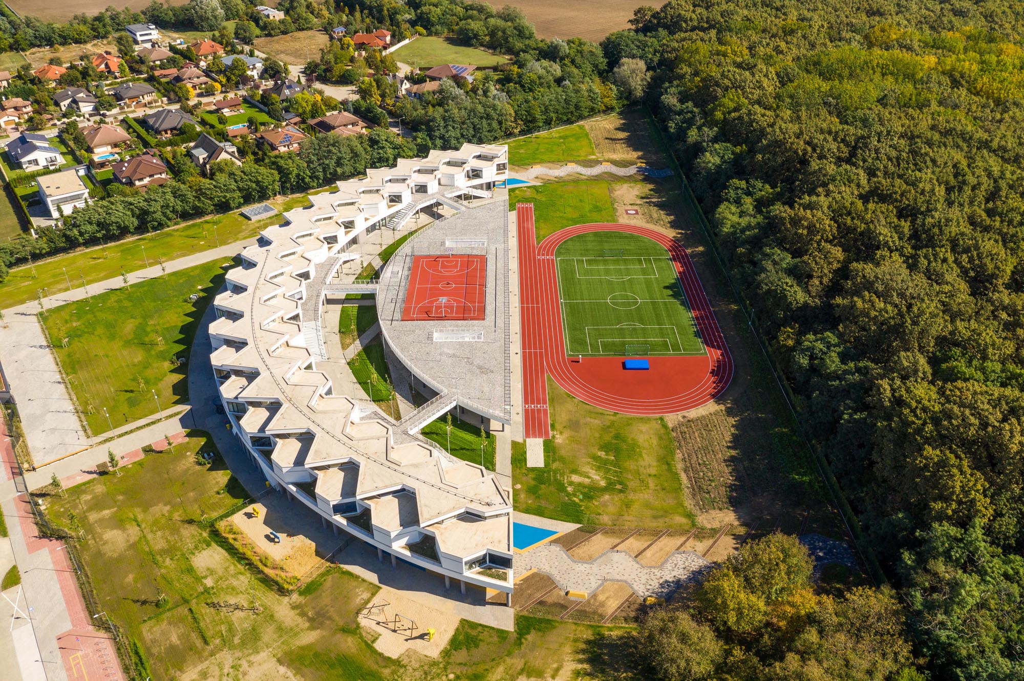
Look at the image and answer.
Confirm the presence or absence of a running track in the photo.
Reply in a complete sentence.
Yes, the image includes a running track.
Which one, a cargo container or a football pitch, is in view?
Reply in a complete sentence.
Looking from above, you can make out a football pitch.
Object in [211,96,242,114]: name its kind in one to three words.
building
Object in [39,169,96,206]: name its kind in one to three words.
house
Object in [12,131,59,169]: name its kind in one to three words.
house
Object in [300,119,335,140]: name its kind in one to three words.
shed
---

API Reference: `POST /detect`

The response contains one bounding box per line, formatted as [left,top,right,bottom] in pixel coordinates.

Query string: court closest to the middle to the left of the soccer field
[401,255,487,321]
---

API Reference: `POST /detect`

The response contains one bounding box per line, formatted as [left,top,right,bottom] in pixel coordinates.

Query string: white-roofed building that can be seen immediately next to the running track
[209,143,515,606]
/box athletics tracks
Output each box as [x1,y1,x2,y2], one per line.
[537,225,734,416]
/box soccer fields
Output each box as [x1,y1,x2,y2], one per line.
[555,232,708,356]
